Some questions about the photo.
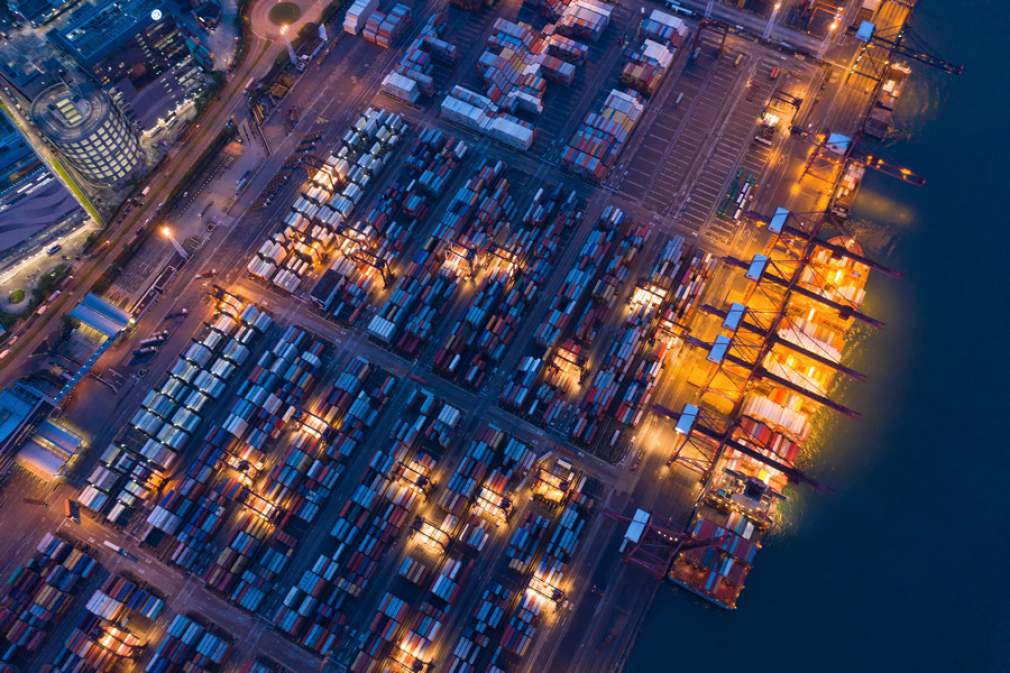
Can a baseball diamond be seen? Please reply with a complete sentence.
No, there appears to be no baseball diamond in this shot.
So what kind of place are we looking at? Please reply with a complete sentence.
This looks like a port.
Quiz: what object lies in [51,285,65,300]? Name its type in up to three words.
vehicle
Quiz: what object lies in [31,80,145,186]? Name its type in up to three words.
building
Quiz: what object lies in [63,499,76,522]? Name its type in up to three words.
vehicle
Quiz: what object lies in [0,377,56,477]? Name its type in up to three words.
building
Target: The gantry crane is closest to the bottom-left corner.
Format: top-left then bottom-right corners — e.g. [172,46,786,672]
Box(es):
[97,616,155,655]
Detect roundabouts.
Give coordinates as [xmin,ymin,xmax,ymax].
[254,0,315,36]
